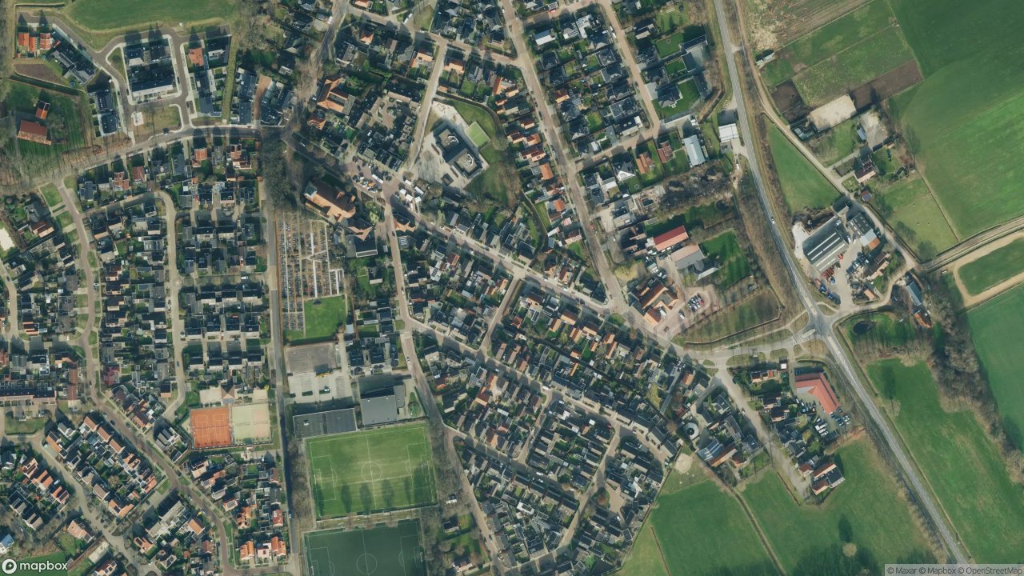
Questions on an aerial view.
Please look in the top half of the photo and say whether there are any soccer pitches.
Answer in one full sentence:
No, there's no soccer pitch to be seen in the top half of the photo.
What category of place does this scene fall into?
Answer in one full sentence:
The picture captures a residential area.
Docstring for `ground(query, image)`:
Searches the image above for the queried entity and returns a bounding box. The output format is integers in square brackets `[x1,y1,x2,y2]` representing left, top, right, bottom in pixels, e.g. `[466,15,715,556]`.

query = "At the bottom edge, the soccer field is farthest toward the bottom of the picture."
[304,519,424,576]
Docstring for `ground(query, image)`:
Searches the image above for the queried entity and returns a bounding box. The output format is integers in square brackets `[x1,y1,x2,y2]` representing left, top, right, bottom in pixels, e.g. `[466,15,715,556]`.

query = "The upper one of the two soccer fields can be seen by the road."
[305,423,437,521]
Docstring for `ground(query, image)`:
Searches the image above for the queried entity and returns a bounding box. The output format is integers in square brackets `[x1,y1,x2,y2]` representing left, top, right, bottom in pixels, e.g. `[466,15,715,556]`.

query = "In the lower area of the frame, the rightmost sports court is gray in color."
[286,342,336,373]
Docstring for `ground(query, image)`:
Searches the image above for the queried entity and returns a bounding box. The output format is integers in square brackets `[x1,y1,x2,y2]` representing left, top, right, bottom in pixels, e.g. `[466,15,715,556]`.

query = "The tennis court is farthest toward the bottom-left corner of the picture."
[191,407,231,448]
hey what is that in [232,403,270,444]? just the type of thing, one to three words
tennis court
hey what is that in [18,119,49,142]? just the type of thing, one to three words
barn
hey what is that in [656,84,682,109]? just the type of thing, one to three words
house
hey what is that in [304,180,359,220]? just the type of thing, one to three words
building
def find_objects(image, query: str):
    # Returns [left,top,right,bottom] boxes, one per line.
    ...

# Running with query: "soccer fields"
[305,423,437,521]
[304,519,424,576]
